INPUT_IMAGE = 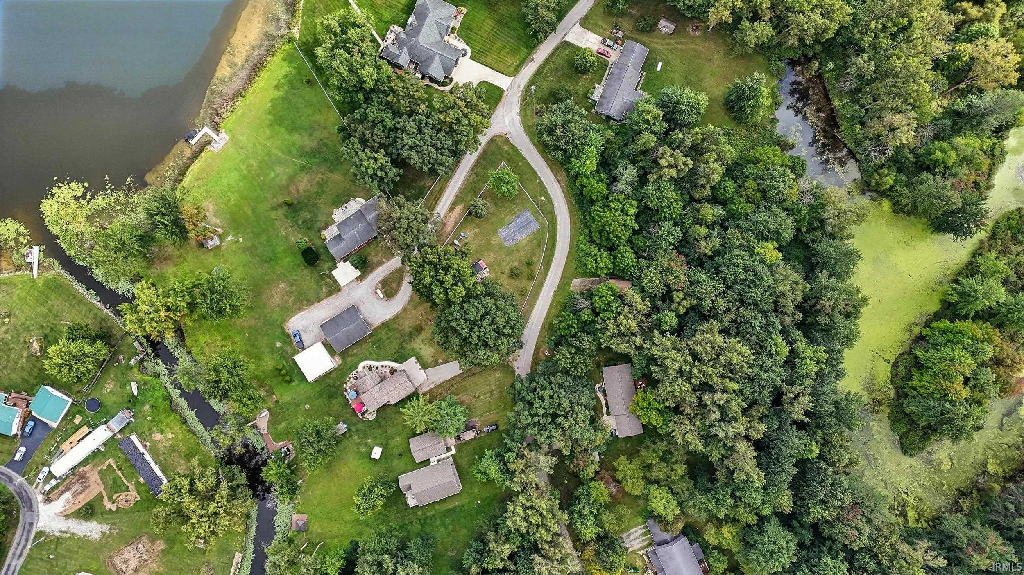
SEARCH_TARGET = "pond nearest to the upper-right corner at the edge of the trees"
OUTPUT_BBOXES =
[776,57,862,191]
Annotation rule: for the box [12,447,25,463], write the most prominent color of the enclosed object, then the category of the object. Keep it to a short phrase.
white vehicle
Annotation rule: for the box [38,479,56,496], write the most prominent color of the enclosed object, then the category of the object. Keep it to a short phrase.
white vehicle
